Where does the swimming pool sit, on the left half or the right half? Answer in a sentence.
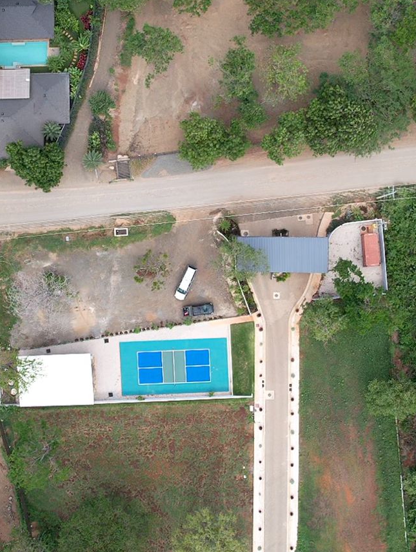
It is on the left.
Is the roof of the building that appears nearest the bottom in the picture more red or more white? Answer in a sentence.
The roof of the building that appears nearest the bottom is white.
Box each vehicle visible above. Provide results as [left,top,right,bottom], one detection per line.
[182,304,214,317]
[176,266,196,300]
